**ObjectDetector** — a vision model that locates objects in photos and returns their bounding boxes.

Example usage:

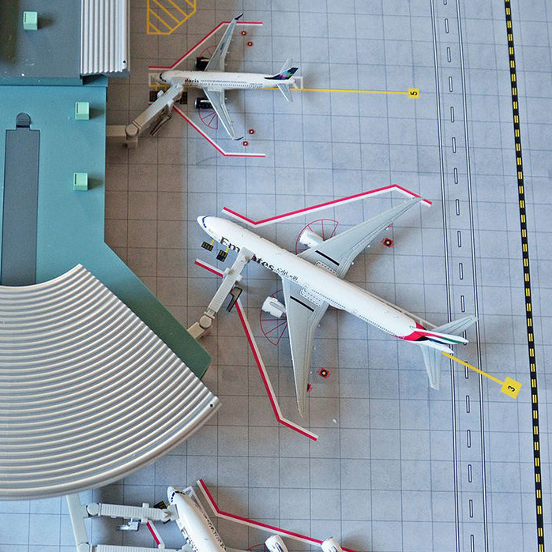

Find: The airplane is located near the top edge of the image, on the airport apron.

[159,14,298,141]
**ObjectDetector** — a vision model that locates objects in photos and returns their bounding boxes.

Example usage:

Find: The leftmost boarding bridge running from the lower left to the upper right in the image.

[107,72,185,154]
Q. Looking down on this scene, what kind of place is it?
airport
